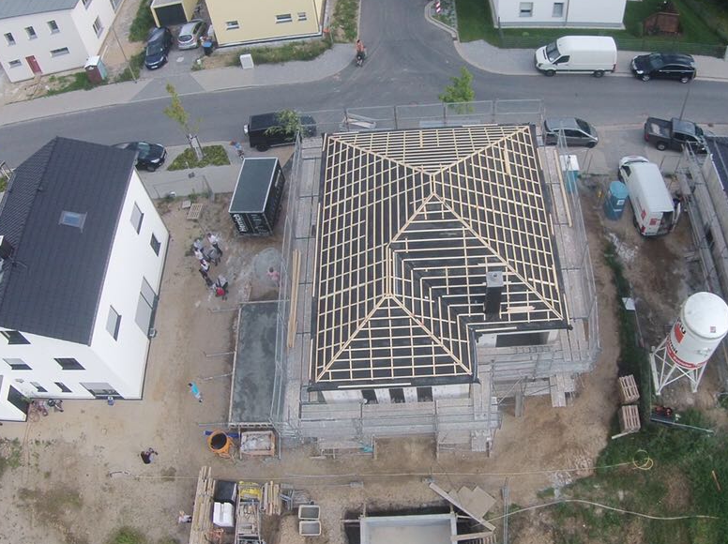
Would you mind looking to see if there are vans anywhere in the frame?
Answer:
Yes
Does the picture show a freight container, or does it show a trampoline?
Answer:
freight container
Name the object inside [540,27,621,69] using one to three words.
van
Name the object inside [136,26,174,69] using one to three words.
car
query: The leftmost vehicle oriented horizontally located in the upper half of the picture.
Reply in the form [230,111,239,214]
[104,138,165,166]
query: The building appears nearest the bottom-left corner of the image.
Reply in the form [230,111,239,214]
[0,142,169,423]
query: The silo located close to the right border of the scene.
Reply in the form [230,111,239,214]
[649,299,728,394]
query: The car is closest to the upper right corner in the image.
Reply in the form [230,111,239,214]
[635,47,699,79]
